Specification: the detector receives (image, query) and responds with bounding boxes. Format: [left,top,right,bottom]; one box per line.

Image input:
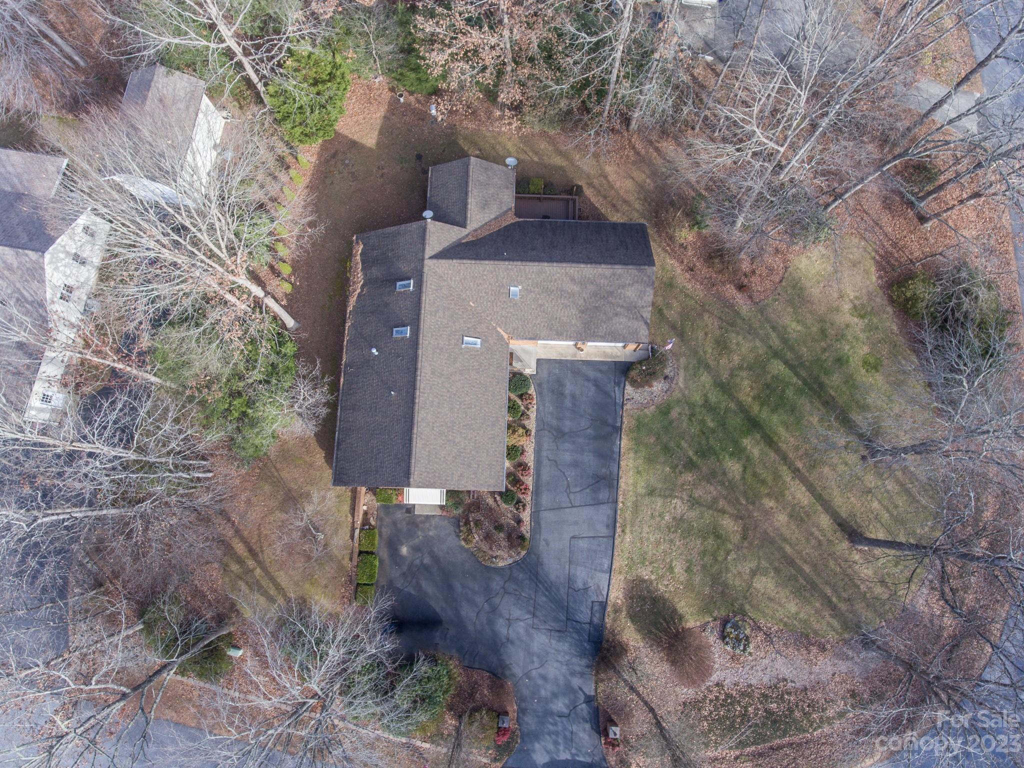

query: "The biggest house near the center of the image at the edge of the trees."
[331,156,656,491]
